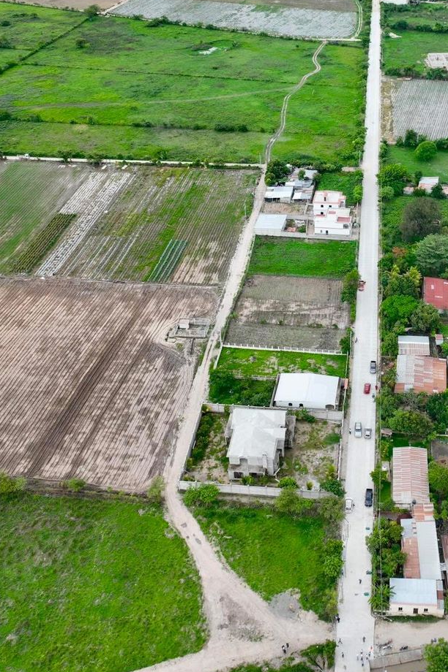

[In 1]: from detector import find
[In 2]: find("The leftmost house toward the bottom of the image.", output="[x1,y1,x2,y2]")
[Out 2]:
[225,411,305,481]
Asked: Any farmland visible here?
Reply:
Yes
